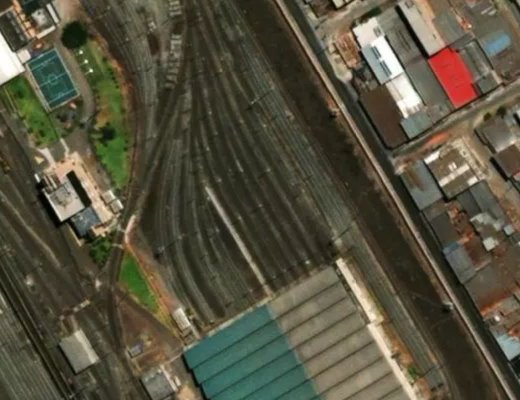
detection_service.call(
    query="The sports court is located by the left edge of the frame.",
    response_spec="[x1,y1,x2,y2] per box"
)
[25,47,81,112]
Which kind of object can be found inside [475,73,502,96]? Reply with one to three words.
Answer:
shed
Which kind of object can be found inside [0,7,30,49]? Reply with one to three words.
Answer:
building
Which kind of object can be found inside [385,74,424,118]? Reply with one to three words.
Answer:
house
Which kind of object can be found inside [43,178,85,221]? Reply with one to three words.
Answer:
building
